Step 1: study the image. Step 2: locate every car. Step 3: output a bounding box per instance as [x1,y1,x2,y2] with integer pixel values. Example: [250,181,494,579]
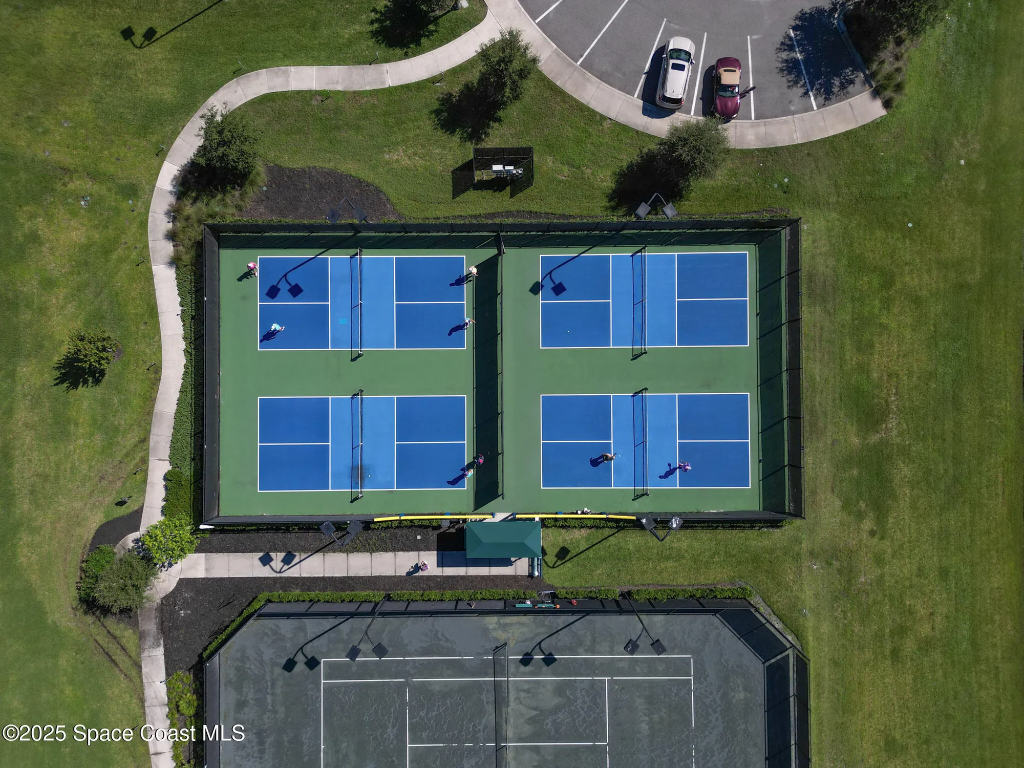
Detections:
[711,58,757,122]
[655,35,696,112]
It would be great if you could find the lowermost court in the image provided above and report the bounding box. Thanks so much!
[218,596,798,768]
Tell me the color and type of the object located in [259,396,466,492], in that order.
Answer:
blue sports court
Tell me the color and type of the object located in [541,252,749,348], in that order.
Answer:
blue sports court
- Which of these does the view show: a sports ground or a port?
sports ground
